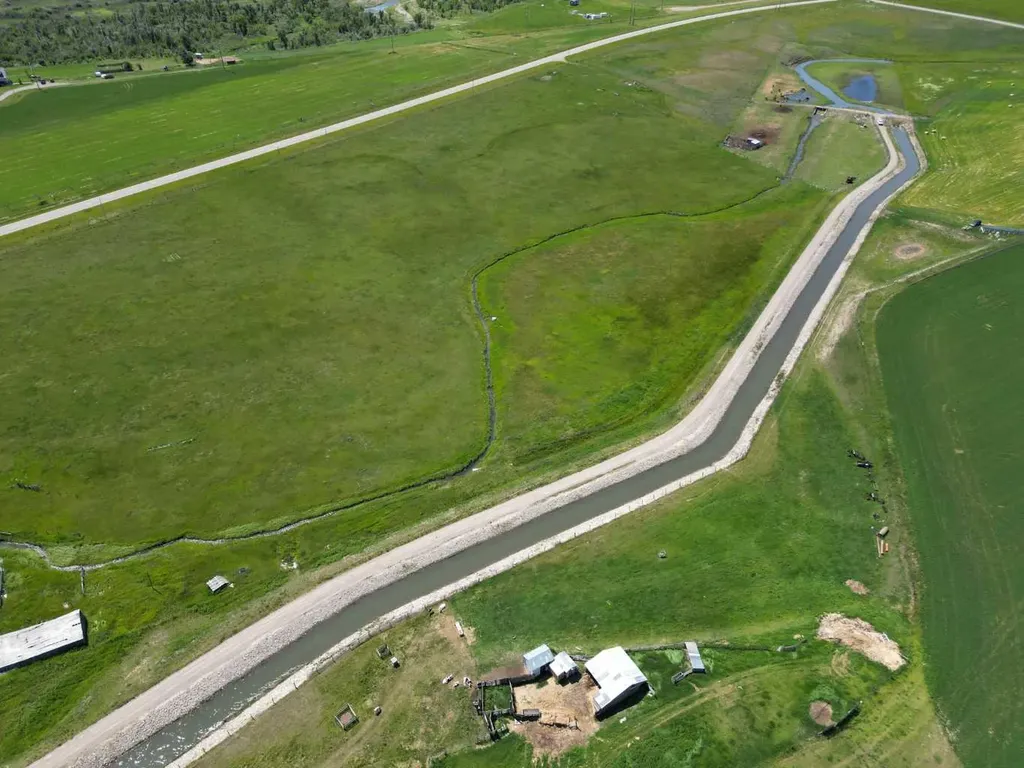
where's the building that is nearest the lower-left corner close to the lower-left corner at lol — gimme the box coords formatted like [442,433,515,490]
[0,609,87,672]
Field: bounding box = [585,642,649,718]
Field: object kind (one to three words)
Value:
barn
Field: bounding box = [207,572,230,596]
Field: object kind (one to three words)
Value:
shed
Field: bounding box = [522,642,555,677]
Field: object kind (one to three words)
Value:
shed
